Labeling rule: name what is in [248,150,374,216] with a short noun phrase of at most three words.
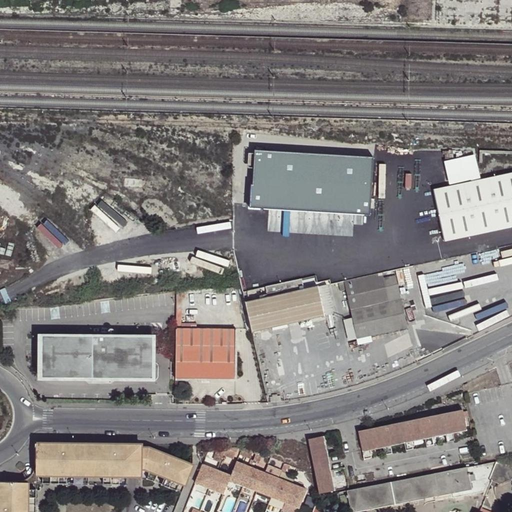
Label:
building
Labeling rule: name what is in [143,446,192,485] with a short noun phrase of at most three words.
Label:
building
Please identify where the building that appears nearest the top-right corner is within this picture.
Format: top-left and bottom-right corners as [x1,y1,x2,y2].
[444,154,481,184]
